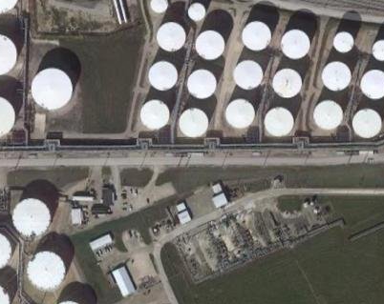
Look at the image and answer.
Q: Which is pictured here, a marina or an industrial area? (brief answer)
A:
industrial area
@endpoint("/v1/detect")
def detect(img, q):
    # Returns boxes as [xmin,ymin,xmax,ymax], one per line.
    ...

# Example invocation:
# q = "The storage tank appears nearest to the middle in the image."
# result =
[179,108,210,138]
